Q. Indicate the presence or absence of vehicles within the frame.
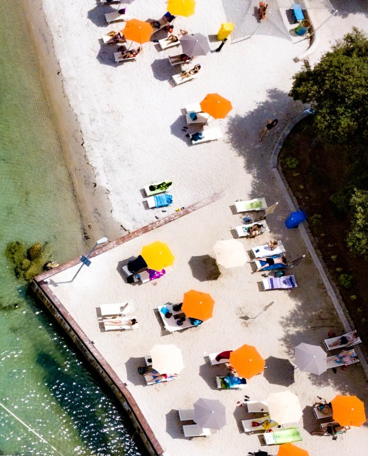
No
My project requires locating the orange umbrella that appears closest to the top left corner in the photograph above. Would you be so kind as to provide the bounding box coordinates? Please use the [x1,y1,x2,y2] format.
[120,22,153,51]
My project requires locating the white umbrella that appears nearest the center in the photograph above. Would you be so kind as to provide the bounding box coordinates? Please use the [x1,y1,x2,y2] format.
[211,240,246,273]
